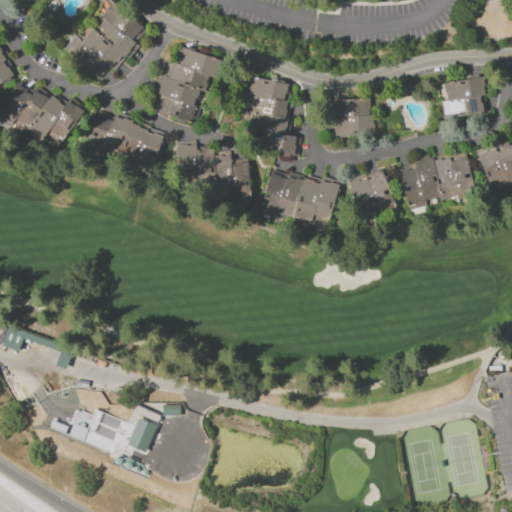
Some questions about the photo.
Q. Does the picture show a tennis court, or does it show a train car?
tennis court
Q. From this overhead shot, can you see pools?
Yes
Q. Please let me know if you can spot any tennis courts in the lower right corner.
Yes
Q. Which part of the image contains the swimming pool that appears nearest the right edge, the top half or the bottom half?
top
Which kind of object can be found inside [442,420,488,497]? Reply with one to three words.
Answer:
tennis court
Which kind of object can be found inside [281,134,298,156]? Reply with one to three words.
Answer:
building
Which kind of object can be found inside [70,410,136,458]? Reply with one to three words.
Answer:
building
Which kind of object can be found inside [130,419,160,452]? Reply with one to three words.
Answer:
barn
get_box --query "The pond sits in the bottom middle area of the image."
[212,428,302,488]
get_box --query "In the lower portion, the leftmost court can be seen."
[405,427,450,502]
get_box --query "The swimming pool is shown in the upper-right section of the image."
[386,96,430,132]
